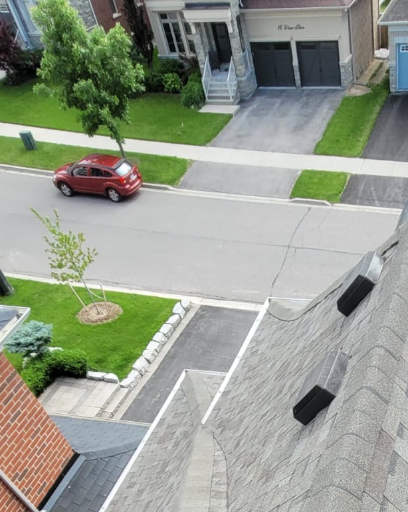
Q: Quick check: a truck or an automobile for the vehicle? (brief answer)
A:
automobile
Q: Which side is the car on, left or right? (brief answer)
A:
left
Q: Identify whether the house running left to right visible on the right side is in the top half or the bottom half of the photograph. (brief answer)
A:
top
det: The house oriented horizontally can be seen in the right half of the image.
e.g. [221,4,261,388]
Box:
[138,0,388,109]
